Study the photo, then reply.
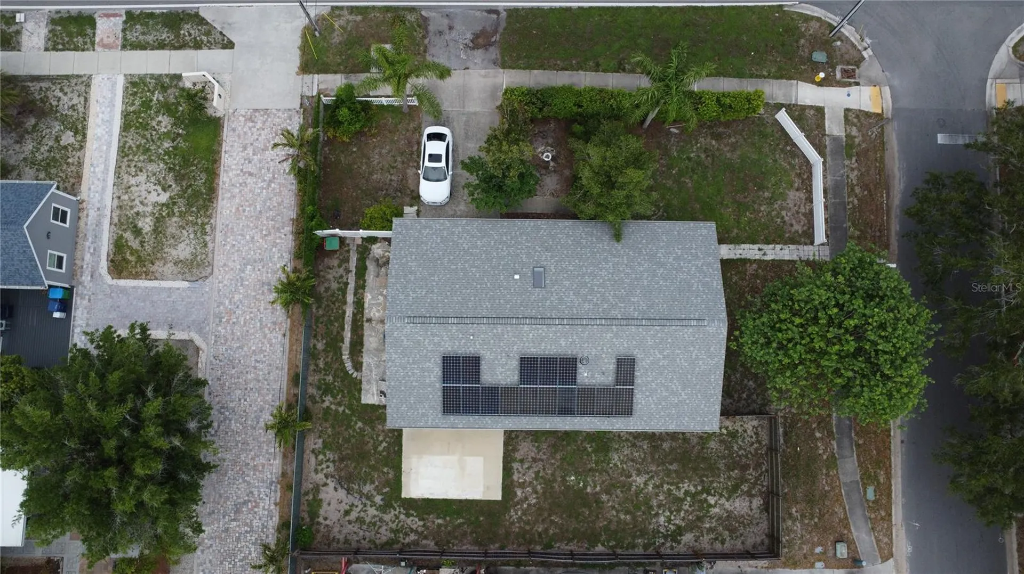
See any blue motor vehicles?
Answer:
No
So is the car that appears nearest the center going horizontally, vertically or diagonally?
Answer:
vertically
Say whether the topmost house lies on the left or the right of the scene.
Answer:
left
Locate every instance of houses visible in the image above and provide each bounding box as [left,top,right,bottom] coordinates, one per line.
[385,217,726,431]
[0,179,80,291]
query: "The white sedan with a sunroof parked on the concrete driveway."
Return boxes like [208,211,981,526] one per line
[418,127,453,205]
